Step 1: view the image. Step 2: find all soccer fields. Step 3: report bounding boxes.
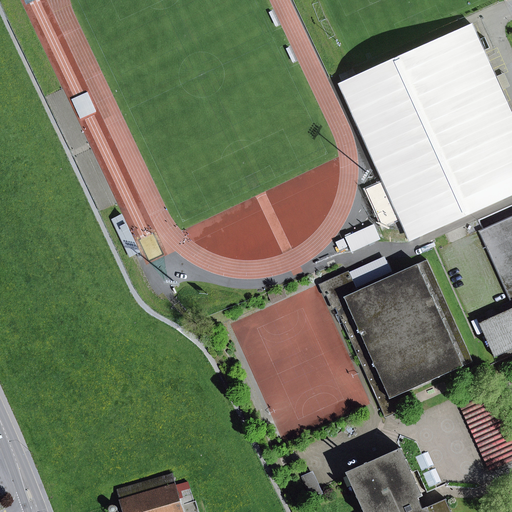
[326,0,462,50]
[71,0,338,258]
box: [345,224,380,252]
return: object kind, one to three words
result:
building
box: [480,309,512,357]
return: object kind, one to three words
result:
building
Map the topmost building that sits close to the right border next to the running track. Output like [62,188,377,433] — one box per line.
[338,24,512,241]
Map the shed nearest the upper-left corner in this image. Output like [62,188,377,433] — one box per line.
[112,214,140,257]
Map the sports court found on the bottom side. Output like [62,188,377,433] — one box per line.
[232,286,369,438]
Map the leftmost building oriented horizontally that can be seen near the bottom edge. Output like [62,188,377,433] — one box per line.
[116,473,198,512]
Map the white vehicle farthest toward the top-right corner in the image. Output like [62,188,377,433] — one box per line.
[416,242,436,254]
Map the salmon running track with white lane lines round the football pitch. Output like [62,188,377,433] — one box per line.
[48,0,360,278]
